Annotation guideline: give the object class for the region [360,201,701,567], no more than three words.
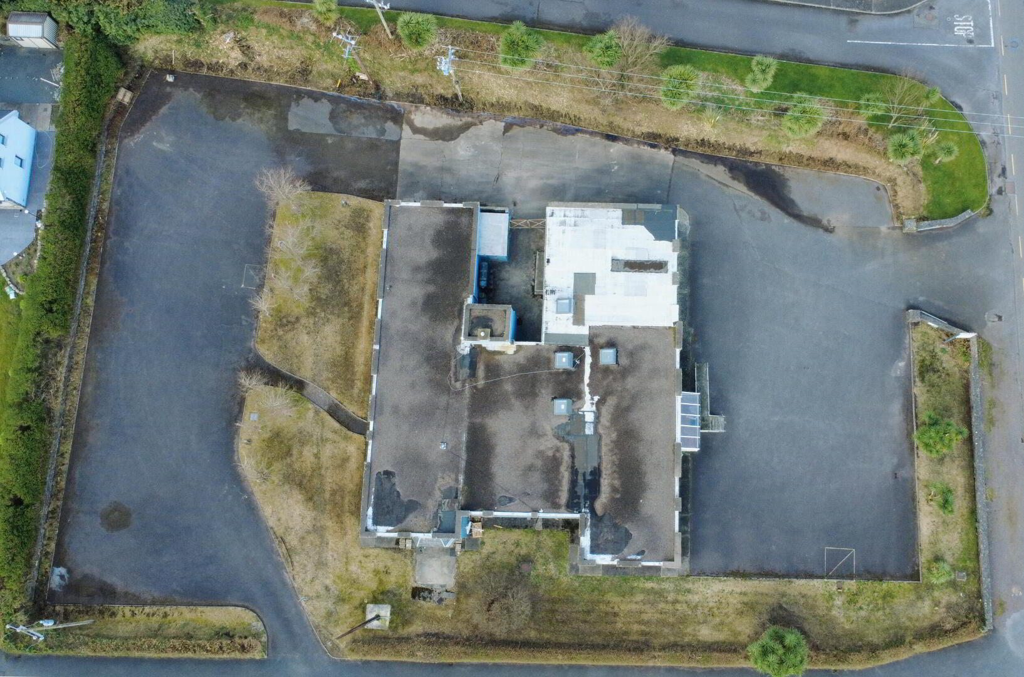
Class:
building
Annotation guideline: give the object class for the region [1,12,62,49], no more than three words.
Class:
shed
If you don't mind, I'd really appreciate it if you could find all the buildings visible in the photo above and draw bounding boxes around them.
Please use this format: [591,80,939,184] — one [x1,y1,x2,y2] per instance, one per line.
[360,201,701,567]
[0,113,36,211]
[1,12,62,49]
